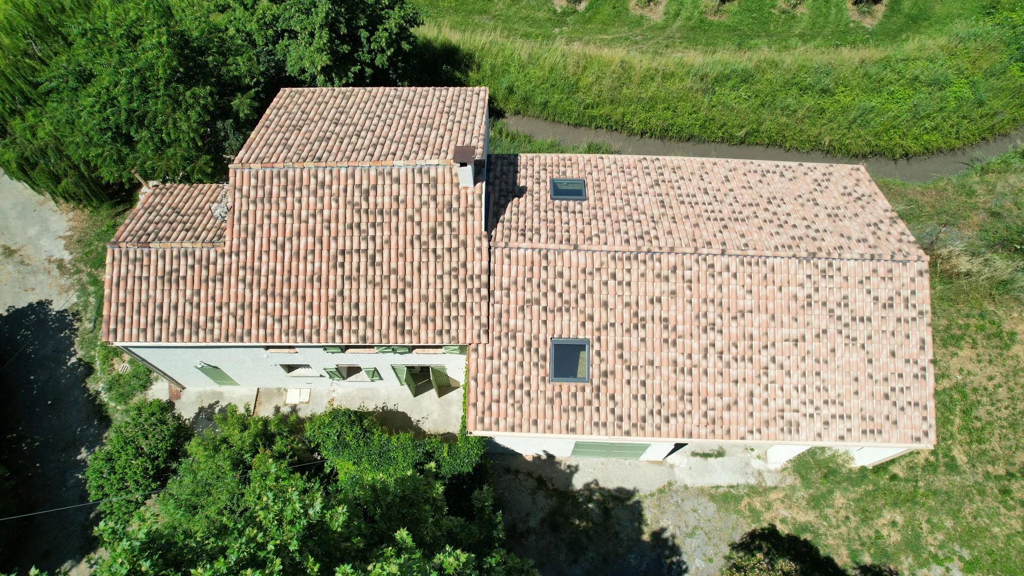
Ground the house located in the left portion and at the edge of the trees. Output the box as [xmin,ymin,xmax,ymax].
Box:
[103,86,494,399]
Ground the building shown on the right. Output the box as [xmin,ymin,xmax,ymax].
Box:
[469,152,939,474]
